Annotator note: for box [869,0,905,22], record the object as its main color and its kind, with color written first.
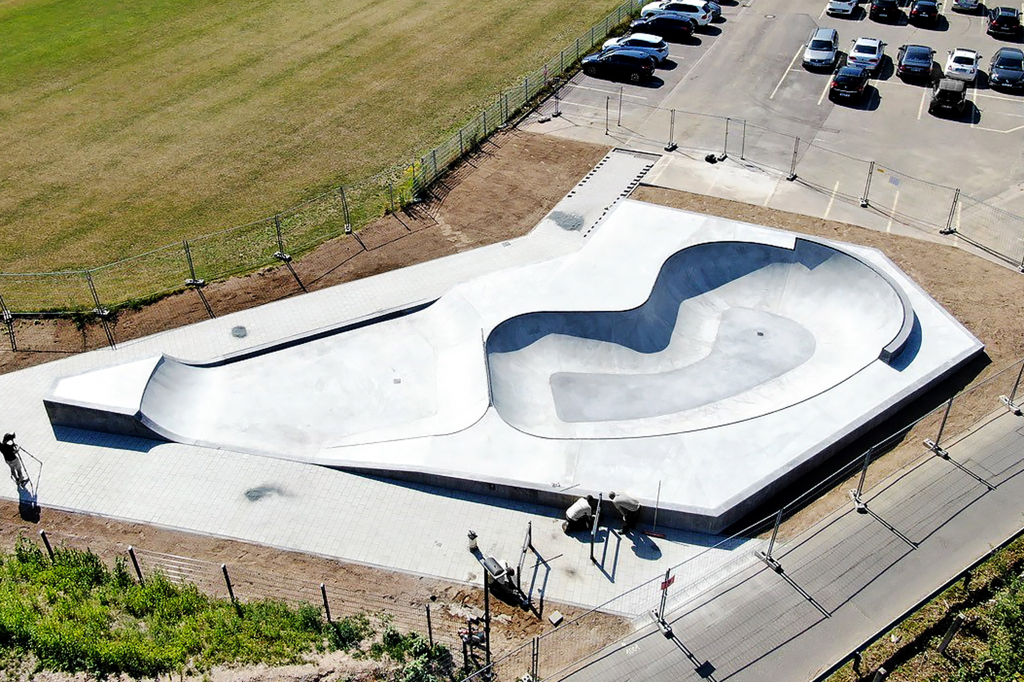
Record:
black car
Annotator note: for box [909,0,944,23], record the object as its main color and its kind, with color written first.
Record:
black car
